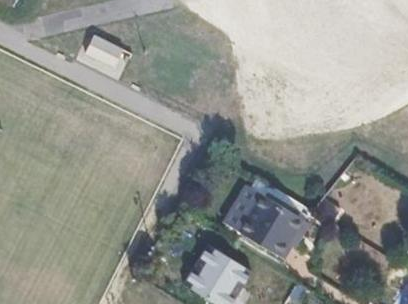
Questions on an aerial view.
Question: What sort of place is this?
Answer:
sports ground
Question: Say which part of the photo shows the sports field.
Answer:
left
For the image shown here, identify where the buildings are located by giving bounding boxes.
[77,36,132,80]
[222,180,307,259]
[186,250,252,304]
[286,285,307,304]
